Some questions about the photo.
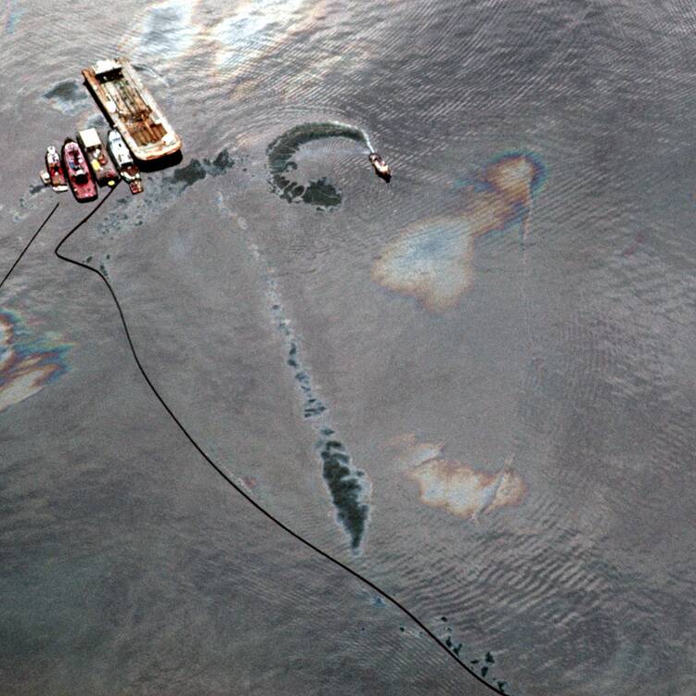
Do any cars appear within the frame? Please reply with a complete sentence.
No, I can't see a single car in this photo.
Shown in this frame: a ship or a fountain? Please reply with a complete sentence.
Looking from above, you can make out a ship.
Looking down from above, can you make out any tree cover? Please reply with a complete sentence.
No, the picture contains no tree cover.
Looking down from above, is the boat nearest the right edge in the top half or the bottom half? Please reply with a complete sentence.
Seen from above, the boat nearest the right edge lies in the top half of the view.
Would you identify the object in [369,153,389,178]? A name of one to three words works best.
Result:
boat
